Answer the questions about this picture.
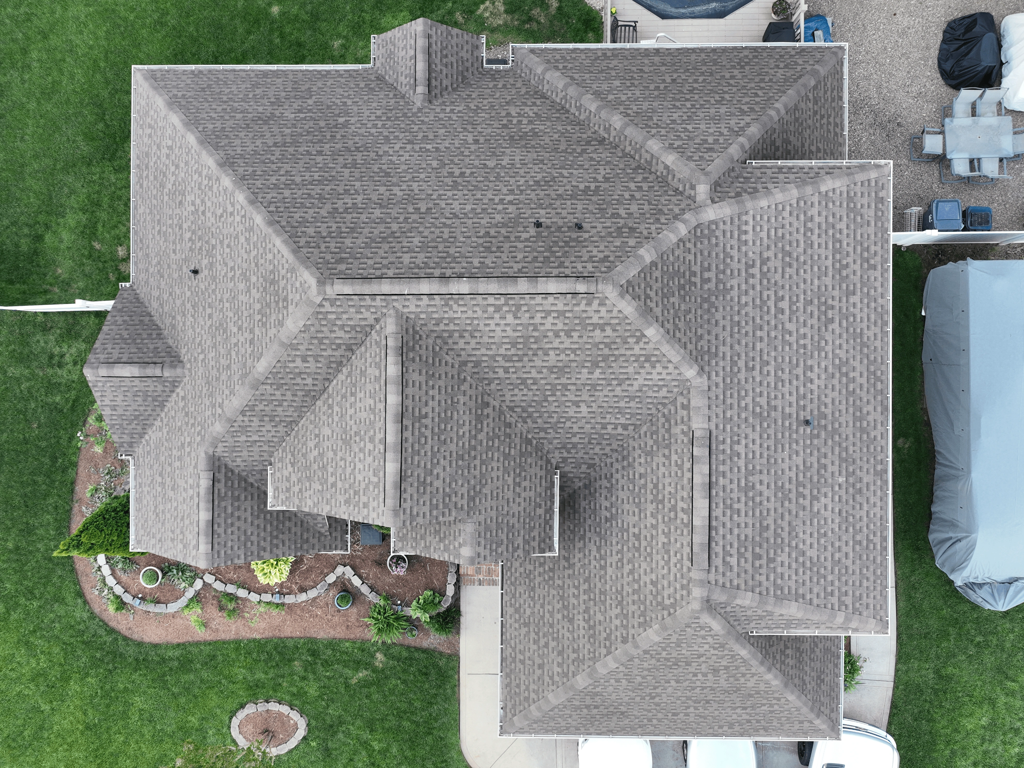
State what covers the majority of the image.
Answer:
buildings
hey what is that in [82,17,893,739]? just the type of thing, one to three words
house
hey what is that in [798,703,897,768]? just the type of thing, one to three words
truck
